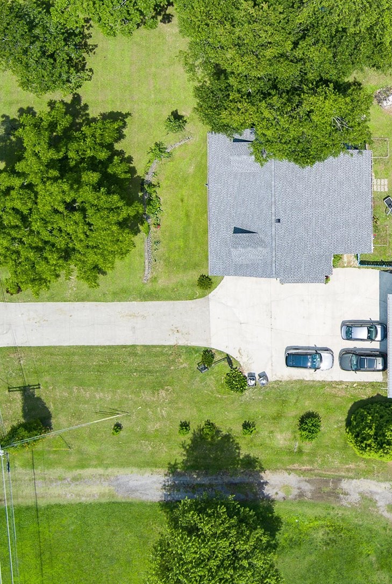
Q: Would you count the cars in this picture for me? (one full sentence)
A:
Looking from above, you can make out 3 cars.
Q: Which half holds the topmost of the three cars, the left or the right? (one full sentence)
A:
The topmost of the three cars appears in the right half of the scene.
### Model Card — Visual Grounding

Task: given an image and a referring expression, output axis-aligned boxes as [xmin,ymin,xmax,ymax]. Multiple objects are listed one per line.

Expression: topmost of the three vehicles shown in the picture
[342,321,386,342]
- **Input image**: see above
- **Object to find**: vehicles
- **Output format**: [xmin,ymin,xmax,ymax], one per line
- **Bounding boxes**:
[286,348,334,371]
[342,321,386,342]
[341,350,386,373]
